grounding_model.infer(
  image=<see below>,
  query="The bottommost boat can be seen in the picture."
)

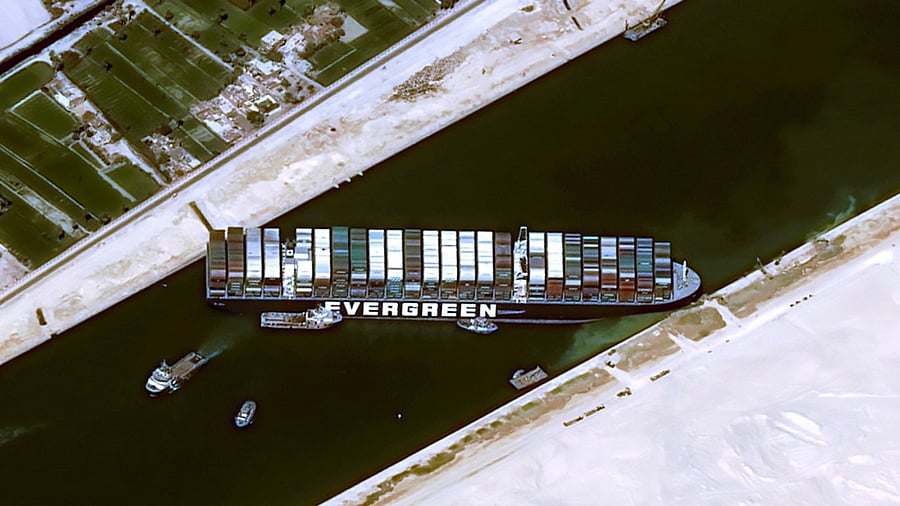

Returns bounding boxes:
[234,399,258,427]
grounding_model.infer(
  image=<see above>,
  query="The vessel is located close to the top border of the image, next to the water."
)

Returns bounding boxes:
[624,0,664,43]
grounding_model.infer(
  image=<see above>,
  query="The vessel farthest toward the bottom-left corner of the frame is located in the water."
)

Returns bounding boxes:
[147,348,206,390]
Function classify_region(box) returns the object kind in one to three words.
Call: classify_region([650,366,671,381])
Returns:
vehicle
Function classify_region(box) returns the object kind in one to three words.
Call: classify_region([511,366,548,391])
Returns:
ship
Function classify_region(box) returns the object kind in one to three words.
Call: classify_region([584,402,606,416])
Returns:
vehicle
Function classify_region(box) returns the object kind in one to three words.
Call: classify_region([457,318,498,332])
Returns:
boat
